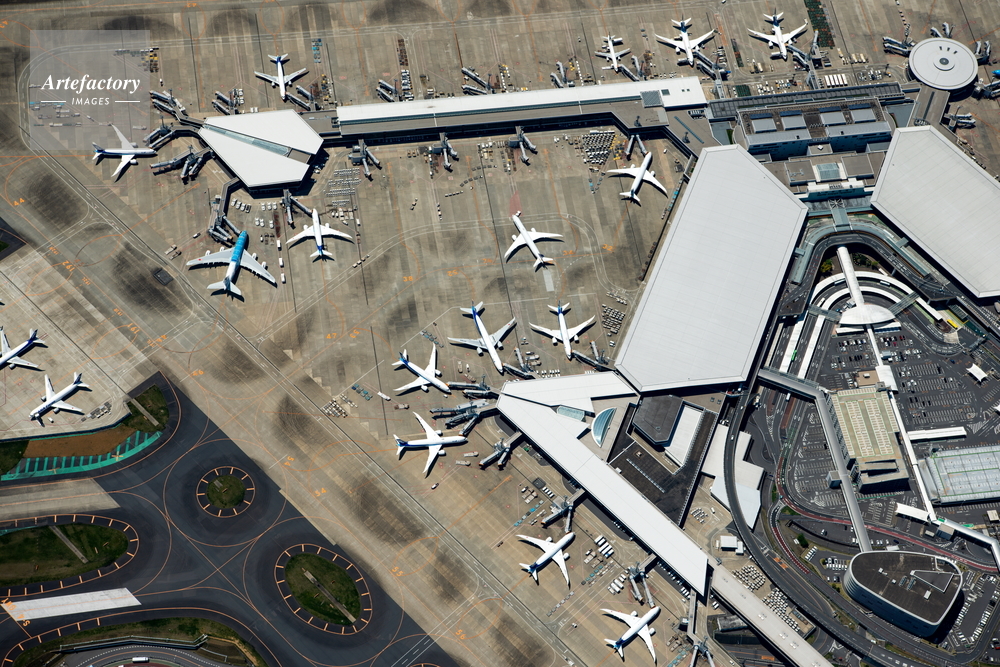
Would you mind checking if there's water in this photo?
No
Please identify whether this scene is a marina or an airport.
airport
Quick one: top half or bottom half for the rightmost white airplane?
top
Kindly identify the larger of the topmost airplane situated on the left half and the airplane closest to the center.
the airplane closest to the center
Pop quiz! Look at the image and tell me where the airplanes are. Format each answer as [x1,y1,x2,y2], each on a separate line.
[0,329,43,367]
[504,216,562,264]
[517,533,575,586]
[393,344,451,394]
[655,17,714,64]
[286,209,353,258]
[749,10,807,59]
[447,302,516,373]
[529,301,595,360]
[187,231,275,295]
[255,54,305,100]
[991,68,1000,75]
[601,607,660,662]
[93,125,156,176]
[30,373,88,418]
[607,153,667,197]
[400,412,466,473]
[596,38,630,70]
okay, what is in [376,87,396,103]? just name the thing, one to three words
jet bridge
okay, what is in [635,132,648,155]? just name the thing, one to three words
jet bridge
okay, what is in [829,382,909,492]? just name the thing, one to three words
building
